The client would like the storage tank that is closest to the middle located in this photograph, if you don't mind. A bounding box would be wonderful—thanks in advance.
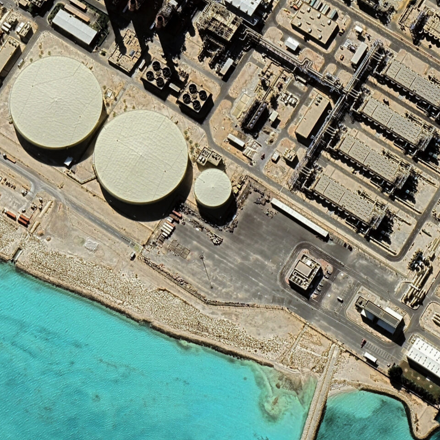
[194,168,233,210]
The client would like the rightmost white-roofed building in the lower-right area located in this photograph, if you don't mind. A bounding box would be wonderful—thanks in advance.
[408,337,440,379]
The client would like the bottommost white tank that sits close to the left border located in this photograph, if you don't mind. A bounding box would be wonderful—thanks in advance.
[9,55,103,151]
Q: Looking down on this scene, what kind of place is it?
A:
industrial area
